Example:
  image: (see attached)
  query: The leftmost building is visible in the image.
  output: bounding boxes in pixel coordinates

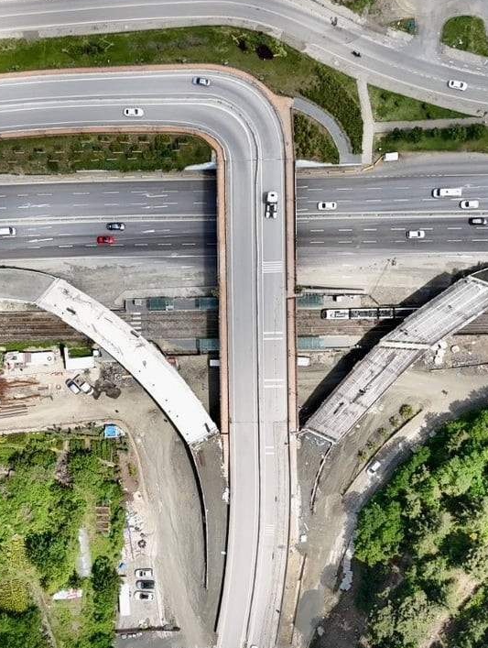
[6,351,55,366]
